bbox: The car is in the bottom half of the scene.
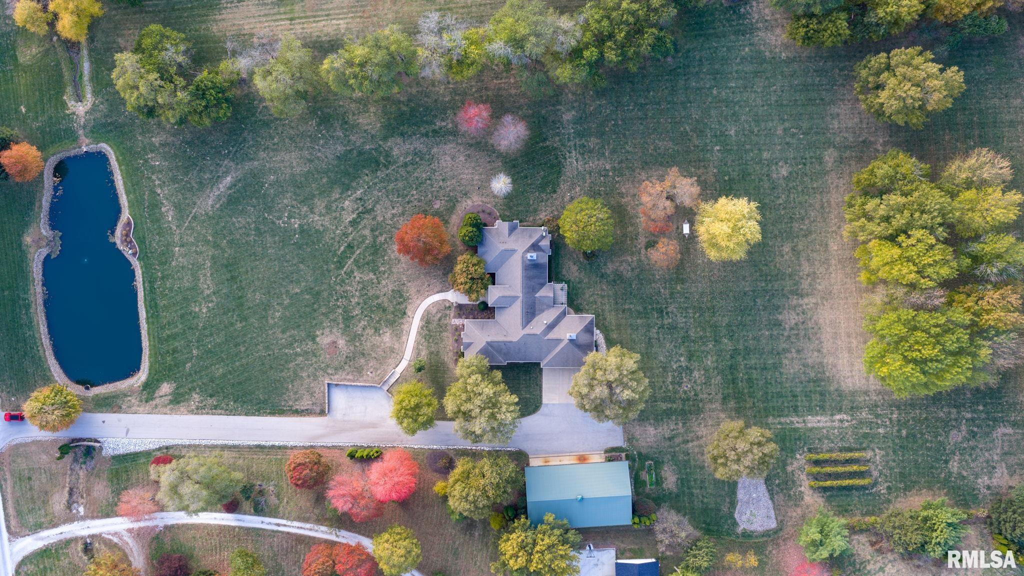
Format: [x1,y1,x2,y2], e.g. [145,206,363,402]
[4,411,27,423]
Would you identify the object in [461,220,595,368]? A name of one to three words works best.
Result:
house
